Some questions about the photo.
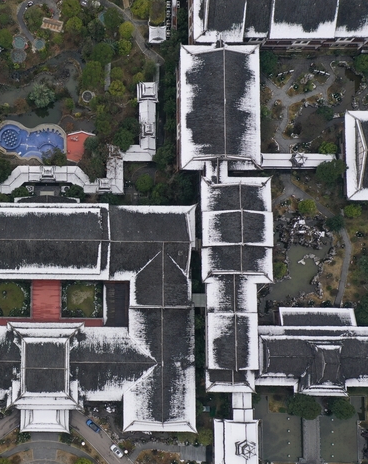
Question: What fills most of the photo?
buildings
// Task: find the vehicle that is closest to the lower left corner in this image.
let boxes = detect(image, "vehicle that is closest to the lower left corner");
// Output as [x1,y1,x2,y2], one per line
[86,417,100,433]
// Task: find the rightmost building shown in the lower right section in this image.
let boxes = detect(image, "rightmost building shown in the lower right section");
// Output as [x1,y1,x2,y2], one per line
[255,308,368,398]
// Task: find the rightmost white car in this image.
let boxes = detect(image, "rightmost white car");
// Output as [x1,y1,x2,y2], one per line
[109,442,124,459]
